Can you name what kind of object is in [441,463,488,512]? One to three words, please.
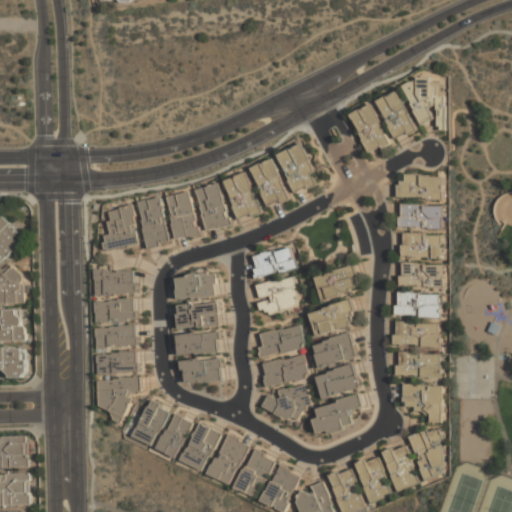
tennis court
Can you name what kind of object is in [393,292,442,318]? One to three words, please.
house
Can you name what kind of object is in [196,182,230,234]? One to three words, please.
house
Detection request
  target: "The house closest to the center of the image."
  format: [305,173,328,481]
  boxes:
[252,248,296,278]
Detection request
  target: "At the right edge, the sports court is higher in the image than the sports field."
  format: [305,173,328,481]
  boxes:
[457,357,494,399]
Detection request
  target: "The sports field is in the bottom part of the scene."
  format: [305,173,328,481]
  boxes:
[460,400,496,464]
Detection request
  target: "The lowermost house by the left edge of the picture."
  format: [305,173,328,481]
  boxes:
[0,474,32,507]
